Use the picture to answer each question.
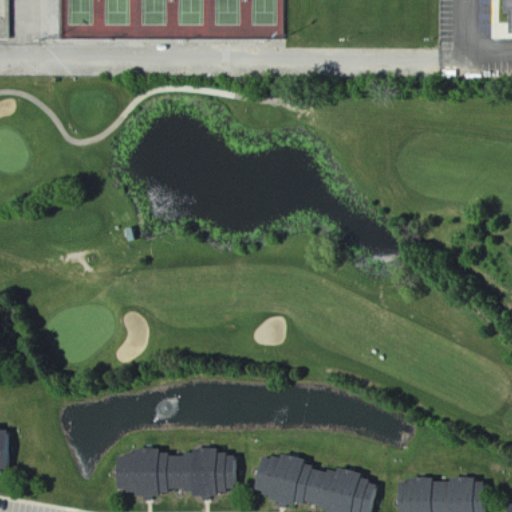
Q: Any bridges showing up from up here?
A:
No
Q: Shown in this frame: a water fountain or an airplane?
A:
water fountain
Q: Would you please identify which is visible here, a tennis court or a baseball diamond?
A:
tennis court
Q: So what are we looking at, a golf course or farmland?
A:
golf course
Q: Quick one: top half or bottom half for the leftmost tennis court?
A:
top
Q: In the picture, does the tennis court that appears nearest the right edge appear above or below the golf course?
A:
above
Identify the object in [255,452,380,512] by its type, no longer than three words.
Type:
house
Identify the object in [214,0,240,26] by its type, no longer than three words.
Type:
tennis court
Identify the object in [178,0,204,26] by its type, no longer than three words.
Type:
tennis court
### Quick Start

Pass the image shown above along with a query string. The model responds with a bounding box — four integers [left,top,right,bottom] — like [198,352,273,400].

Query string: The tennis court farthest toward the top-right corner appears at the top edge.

[252,0,277,26]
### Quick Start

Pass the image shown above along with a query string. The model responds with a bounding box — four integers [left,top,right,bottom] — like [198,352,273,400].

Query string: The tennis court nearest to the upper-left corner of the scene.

[68,0,94,26]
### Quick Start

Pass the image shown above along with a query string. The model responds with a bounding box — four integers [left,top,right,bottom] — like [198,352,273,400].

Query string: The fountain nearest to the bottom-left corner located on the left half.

[154,396,180,422]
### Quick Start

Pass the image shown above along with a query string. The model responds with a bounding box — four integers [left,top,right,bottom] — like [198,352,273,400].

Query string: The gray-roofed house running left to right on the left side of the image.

[116,448,239,500]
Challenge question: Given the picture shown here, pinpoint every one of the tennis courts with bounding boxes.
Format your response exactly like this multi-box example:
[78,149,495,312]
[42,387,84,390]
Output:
[104,0,130,26]
[252,0,277,26]
[68,0,94,26]
[214,0,240,26]
[178,0,204,26]
[142,0,167,26]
